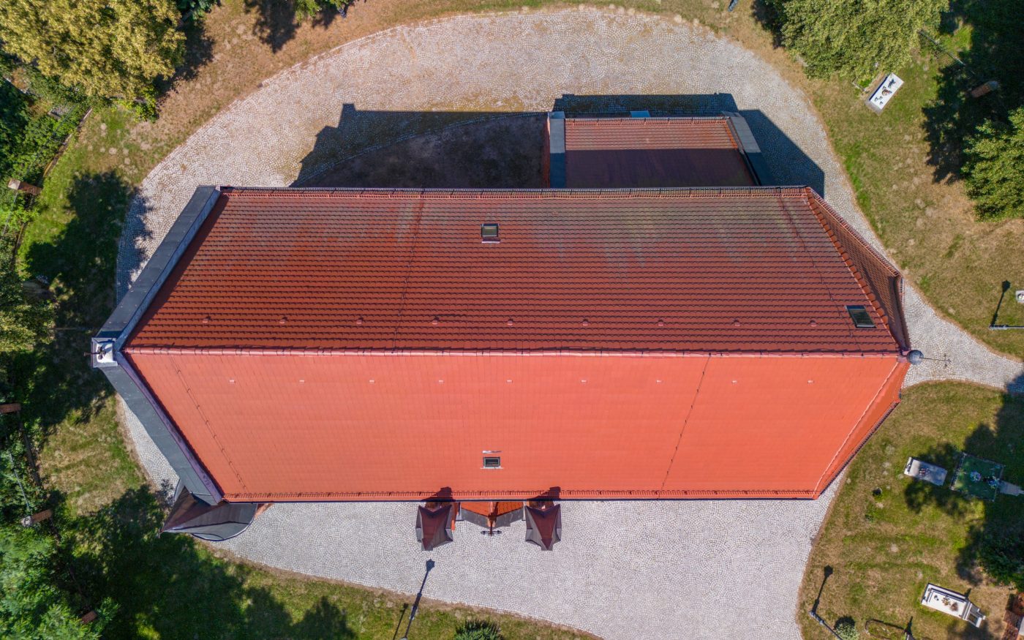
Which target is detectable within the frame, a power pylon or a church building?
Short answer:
church building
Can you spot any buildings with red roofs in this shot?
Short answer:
Yes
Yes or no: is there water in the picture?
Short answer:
No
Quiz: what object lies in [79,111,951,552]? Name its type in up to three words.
church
